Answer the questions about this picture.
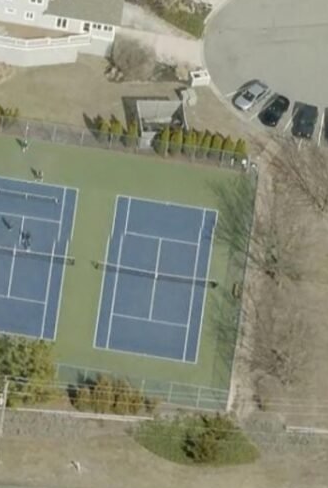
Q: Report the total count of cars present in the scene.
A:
3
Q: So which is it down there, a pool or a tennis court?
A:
tennis court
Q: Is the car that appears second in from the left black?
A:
Yes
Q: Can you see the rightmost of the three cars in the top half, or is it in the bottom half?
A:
top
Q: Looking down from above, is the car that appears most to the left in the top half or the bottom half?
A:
top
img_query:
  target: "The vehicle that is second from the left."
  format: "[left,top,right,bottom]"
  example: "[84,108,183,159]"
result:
[261,96,294,127]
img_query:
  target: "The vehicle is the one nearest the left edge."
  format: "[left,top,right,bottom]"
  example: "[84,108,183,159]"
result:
[235,84,271,112]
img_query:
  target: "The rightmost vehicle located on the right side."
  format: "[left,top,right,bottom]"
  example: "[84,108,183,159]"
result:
[294,102,319,140]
